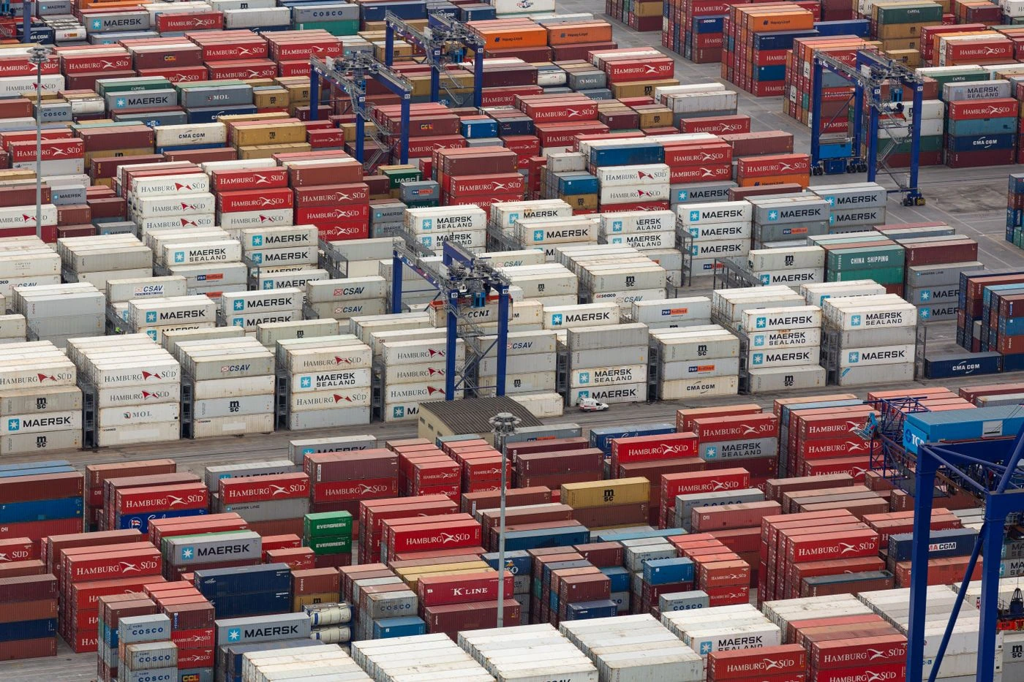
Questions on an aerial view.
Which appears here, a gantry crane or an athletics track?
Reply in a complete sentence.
Of the two, only a gantry crane appears.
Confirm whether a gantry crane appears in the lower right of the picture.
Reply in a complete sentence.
Yes, a gantry crane appears in the lower right of the picture.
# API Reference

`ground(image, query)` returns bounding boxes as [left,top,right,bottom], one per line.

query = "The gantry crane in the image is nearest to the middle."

[385,237,514,401]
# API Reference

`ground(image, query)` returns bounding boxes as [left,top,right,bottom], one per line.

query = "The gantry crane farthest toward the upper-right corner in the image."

[808,47,928,203]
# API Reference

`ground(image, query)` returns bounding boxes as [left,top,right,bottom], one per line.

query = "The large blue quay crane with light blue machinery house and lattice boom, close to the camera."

[825,340,1024,682]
